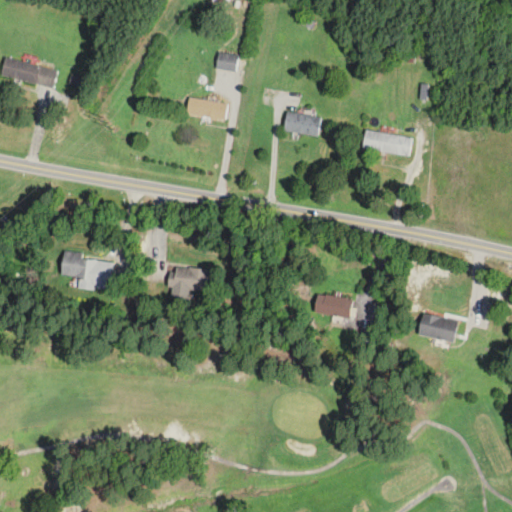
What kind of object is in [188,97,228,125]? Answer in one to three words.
house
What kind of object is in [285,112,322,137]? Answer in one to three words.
house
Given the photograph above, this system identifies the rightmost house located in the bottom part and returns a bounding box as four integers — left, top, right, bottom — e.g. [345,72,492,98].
[419,313,459,342]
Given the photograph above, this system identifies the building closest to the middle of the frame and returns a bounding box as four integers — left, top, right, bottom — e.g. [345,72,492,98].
[168,267,206,300]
